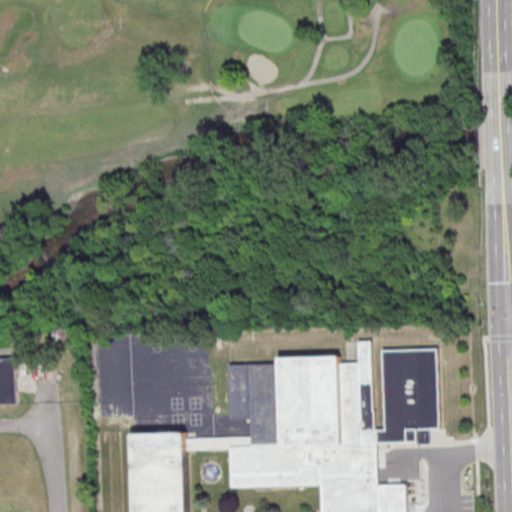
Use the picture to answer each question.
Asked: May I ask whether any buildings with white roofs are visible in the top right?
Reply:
No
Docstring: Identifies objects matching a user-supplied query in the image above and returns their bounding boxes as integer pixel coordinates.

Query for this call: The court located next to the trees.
[100,336,250,438]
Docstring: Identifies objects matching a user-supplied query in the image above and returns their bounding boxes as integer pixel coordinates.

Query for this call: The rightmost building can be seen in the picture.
[371,348,440,442]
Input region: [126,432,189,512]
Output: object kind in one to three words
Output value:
building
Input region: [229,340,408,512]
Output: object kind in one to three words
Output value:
building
